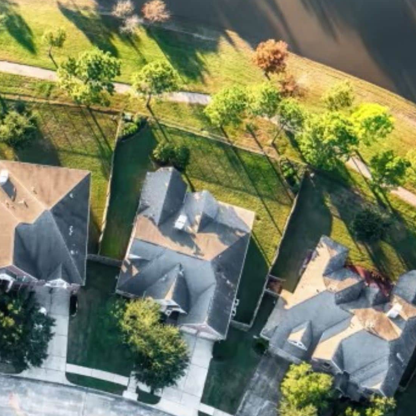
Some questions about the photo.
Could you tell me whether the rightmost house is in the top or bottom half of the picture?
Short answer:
bottom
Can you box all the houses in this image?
[0,160,91,295]
[259,235,416,406]
[116,167,255,346]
